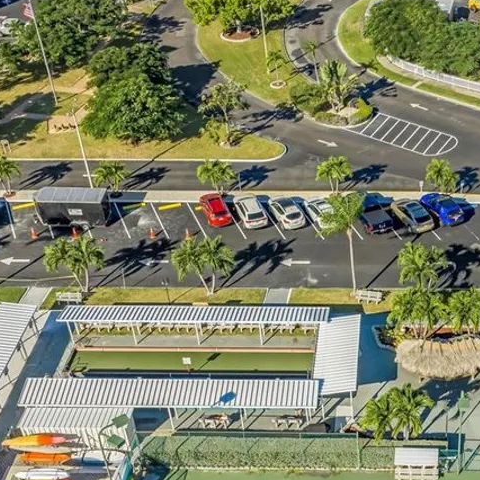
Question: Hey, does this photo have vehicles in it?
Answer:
Yes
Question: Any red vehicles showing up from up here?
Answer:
Yes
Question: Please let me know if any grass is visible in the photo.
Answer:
Yes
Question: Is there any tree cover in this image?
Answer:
Yes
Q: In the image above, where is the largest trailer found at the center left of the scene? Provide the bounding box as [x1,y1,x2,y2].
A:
[28,180,106,223]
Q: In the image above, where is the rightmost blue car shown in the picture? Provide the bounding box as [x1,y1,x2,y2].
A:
[423,195,464,229]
